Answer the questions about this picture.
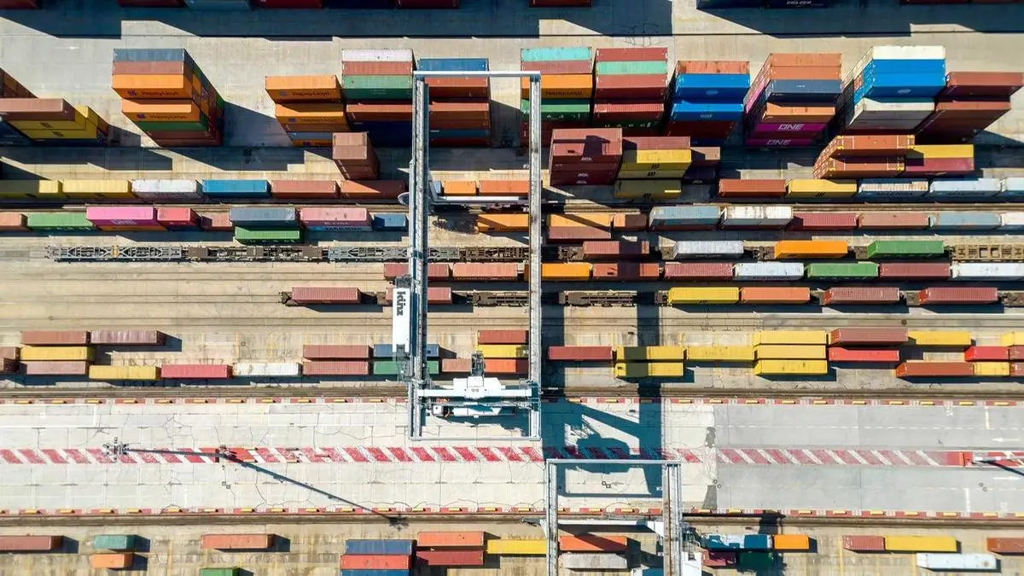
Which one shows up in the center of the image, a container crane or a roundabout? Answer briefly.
container crane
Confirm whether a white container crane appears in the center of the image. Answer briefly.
Yes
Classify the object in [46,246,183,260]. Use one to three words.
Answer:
rail car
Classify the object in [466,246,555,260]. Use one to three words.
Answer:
rail car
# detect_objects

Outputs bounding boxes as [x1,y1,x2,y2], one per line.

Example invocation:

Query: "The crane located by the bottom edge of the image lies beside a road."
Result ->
[534,460,701,576]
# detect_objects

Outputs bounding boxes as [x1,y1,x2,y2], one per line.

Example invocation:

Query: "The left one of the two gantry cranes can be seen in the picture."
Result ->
[392,70,543,441]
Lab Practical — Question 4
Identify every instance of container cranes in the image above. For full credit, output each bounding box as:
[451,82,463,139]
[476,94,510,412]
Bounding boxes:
[534,460,701,576]
[392,70,543,441]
